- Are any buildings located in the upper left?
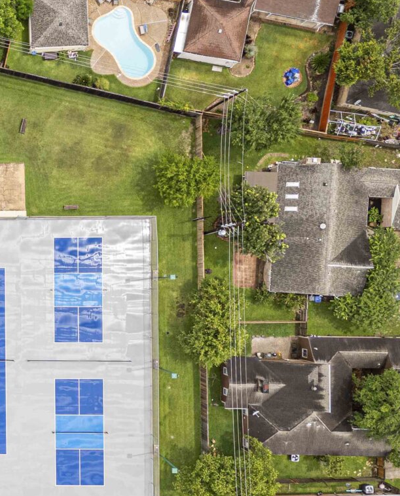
Yes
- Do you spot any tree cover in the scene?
Yes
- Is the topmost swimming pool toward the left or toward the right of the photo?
left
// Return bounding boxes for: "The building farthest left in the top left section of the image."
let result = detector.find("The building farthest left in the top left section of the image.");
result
[29,0,90,51]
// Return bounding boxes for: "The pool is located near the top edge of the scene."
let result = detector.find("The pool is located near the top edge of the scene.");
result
[91,4,157,80]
